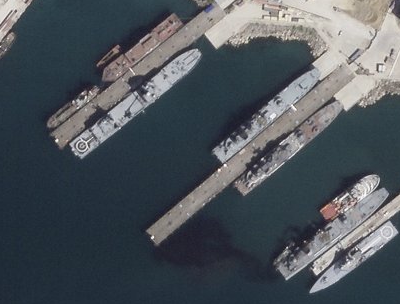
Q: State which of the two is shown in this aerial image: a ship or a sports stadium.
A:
ship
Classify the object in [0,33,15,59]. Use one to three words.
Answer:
boat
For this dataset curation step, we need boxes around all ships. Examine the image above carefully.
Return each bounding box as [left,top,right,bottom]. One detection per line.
[320,176,380,222]
[276,190,389,277]
[97,45,120,66]
[48,84,100,125]
[102,55,134,78]
[123,11,184,66]
[310,221,398,293]
[213,70,322,163]
[235,102,344,195]
[70,49,202,157]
